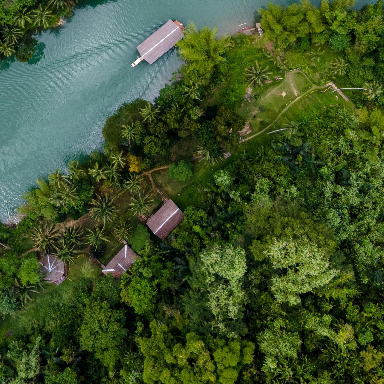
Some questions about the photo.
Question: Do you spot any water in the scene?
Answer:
Yes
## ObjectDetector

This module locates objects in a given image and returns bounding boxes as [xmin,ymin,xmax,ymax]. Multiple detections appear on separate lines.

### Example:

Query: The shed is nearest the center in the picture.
[147,199,184,239]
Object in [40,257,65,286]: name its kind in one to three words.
shed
